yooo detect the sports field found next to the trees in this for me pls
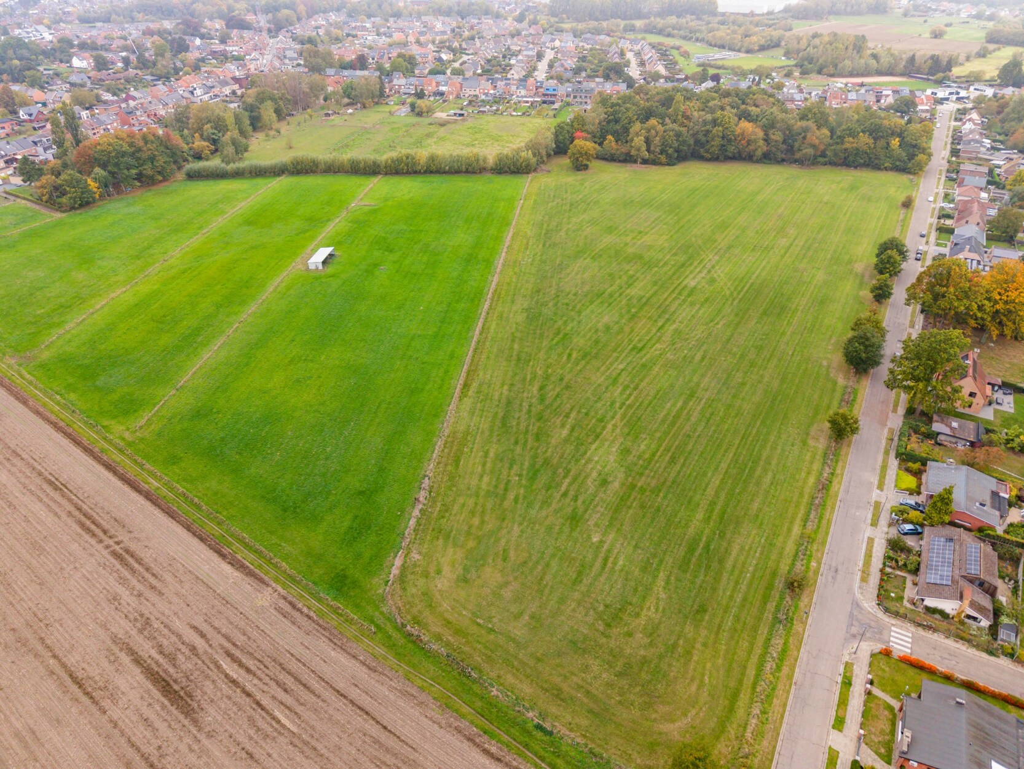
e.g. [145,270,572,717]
[621,34,786,75]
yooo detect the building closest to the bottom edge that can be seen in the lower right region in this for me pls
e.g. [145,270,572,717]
[895,685,1019,769]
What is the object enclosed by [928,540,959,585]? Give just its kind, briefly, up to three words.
solar array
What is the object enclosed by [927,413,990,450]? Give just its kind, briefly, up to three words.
barn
